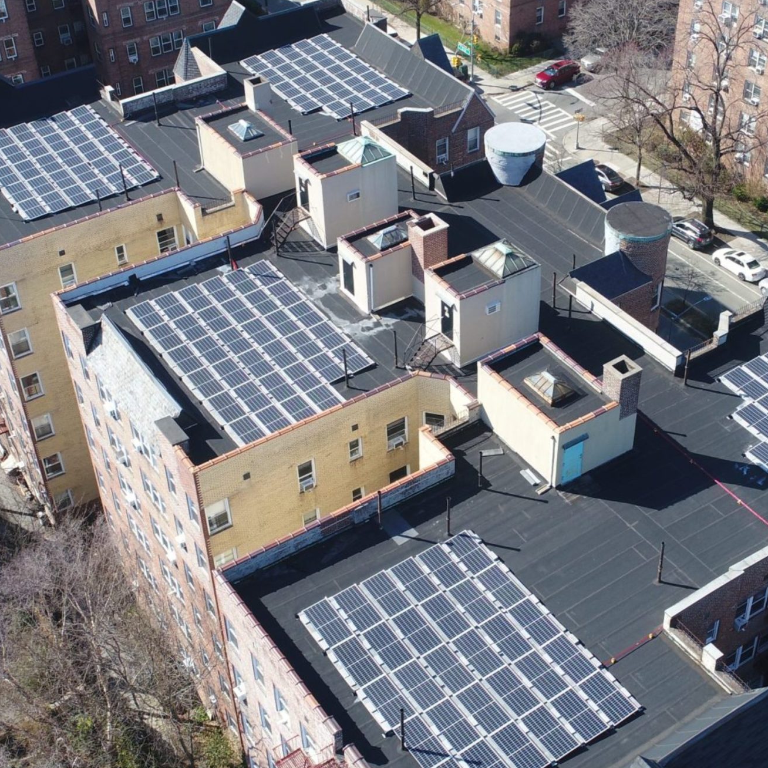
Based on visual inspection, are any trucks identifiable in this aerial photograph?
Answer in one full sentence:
No, the scene contains no truck.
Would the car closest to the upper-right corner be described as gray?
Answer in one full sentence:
Yes, the car closest to the upper-right corner is gray.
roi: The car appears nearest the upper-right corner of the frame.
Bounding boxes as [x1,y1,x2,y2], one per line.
[582,49,629,73]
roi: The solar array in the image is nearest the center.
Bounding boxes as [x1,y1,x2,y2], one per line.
[125,260,373,450]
